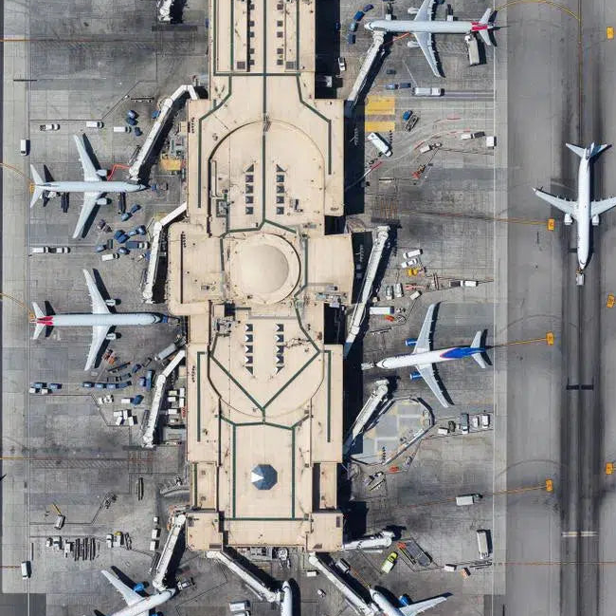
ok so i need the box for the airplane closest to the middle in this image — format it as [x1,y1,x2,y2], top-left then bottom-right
[376,302,491,407]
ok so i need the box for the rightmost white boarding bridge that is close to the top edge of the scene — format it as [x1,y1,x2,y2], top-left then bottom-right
[345,29,385,109]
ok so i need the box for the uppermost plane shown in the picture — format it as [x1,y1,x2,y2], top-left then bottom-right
[365,0,497,77]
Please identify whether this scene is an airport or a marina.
airport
